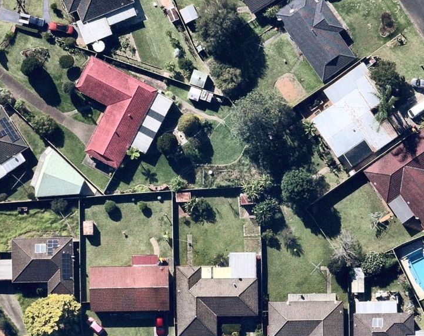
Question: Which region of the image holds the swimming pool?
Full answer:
You can find the swimming pool in the bottom right area of the picture.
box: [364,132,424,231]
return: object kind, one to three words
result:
house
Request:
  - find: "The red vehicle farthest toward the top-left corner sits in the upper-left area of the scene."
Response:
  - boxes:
[49,21,74,35]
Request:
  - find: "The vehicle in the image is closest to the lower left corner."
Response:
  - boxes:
[86,315,105,334]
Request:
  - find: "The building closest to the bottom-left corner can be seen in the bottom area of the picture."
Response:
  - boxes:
[0,237,75,296]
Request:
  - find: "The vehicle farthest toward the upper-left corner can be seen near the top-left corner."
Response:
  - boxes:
[19,14,45,28]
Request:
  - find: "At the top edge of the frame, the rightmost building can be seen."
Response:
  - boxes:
[277,0,355,83]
